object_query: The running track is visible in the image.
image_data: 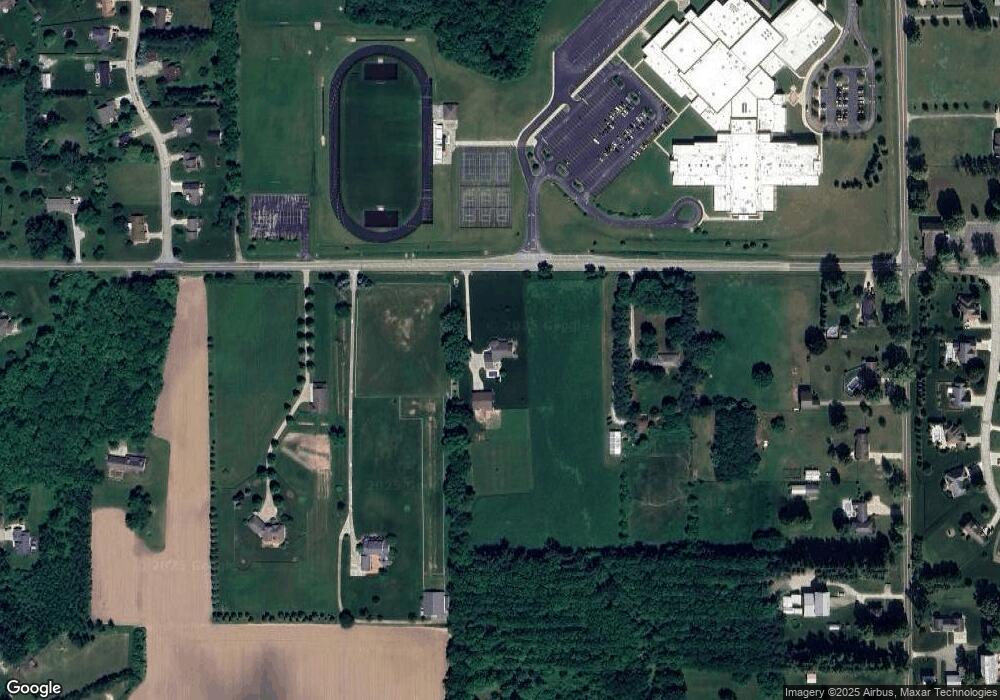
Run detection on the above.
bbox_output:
[329,45,433,242]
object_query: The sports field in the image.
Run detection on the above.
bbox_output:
[341,57,420,229]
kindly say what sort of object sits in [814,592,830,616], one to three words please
barn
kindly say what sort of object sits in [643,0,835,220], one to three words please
building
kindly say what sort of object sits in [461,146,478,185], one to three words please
tennis court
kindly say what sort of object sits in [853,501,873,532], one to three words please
house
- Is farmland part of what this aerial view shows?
Yes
